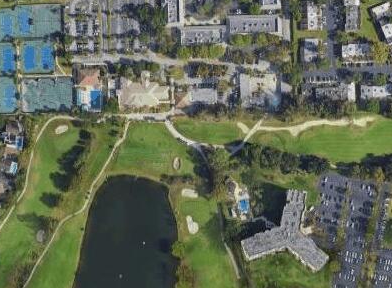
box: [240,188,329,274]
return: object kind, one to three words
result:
building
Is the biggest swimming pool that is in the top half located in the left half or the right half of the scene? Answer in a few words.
left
